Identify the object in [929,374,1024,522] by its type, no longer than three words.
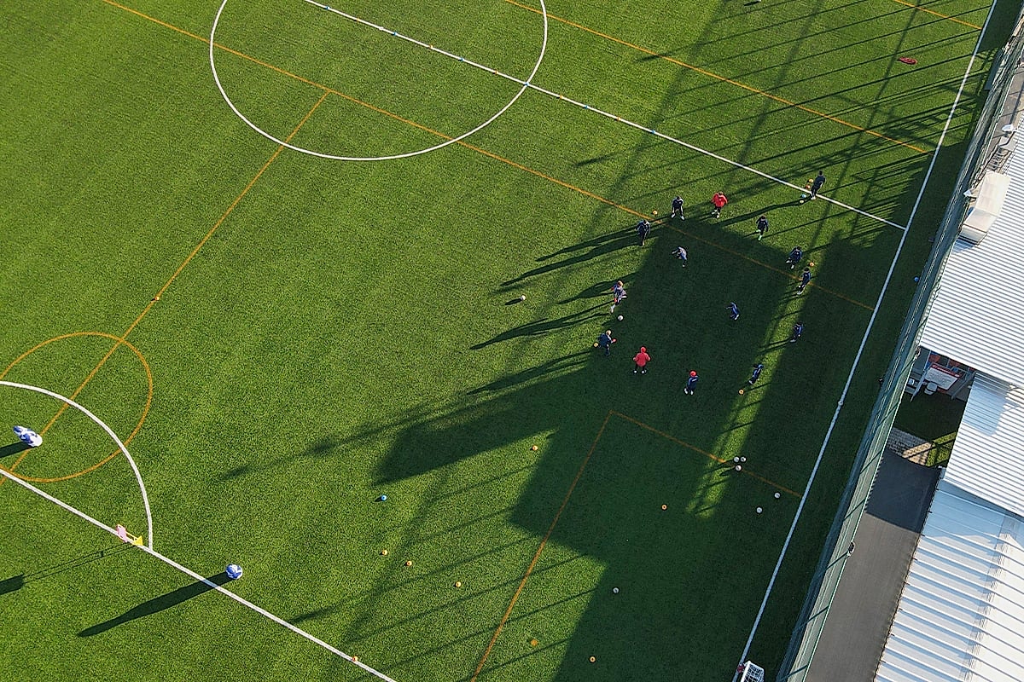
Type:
shed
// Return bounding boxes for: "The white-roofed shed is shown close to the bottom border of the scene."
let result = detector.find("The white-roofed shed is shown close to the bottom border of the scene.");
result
[877,489,1024,682]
